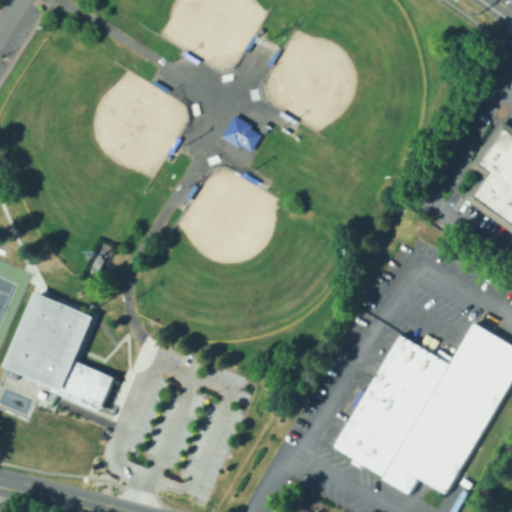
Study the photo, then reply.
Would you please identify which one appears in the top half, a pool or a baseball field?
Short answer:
baseball field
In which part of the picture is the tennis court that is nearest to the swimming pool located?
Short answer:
left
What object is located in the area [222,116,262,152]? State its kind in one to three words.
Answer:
building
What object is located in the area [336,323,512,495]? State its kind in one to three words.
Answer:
building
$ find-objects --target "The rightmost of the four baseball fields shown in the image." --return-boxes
[265,30,358,134]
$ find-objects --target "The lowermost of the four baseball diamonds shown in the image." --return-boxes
[140,166,340,344]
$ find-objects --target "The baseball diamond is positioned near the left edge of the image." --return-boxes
[0,36,190,272]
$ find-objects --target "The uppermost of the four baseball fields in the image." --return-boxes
[159,0,270,70]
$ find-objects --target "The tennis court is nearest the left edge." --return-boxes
[0,262,30,350]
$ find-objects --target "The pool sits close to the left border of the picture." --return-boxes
[1,389,32,414]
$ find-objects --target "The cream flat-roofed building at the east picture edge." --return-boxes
[474,132,512,224]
